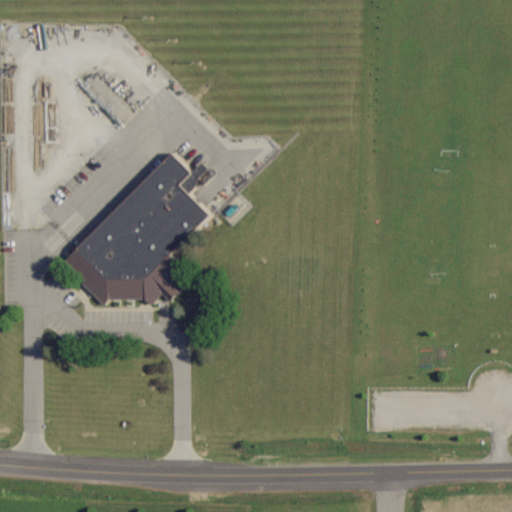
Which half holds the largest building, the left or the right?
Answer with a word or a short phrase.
left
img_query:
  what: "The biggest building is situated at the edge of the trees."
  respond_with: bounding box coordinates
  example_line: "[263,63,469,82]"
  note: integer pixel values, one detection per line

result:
[66,154,214,305]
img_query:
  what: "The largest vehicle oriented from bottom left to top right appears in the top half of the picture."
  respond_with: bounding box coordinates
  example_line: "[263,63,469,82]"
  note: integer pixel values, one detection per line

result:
[198,169,216,186]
